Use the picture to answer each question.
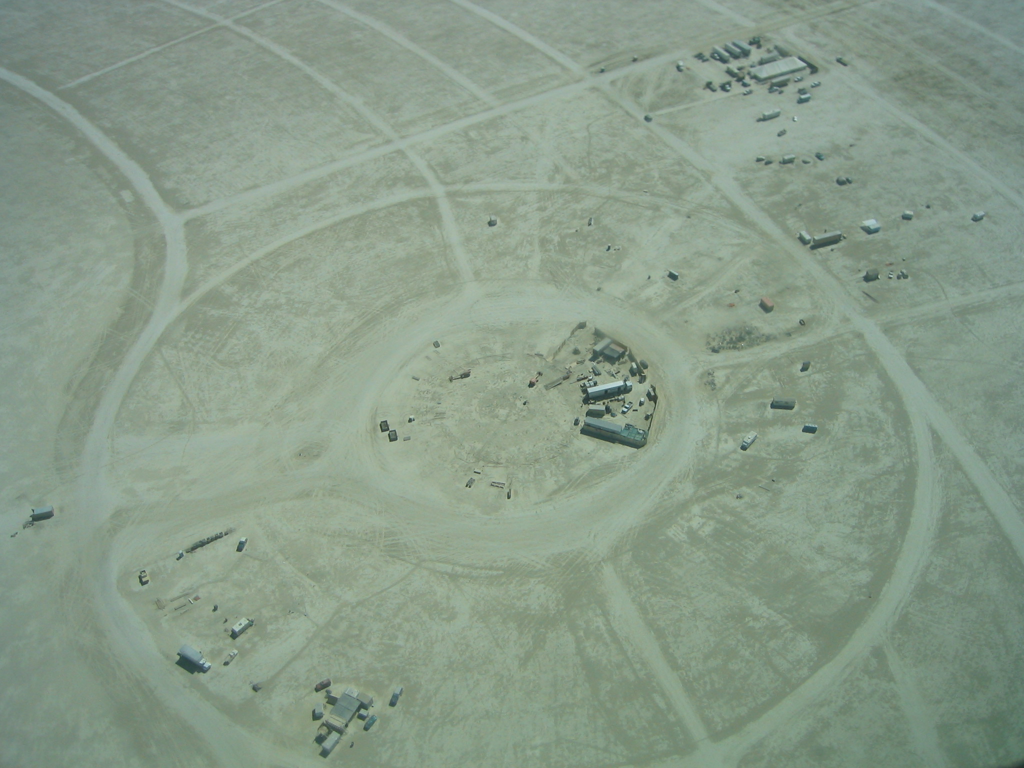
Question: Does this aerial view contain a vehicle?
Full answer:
Yes, there's a vehicle down there.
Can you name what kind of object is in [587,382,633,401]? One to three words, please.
vehicle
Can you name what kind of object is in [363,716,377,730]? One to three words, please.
car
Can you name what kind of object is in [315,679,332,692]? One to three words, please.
vehicle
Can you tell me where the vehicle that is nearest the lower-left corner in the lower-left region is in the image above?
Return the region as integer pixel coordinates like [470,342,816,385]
[177,644,216,676]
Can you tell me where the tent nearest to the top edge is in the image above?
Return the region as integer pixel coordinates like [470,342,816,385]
[748,57,808,86]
